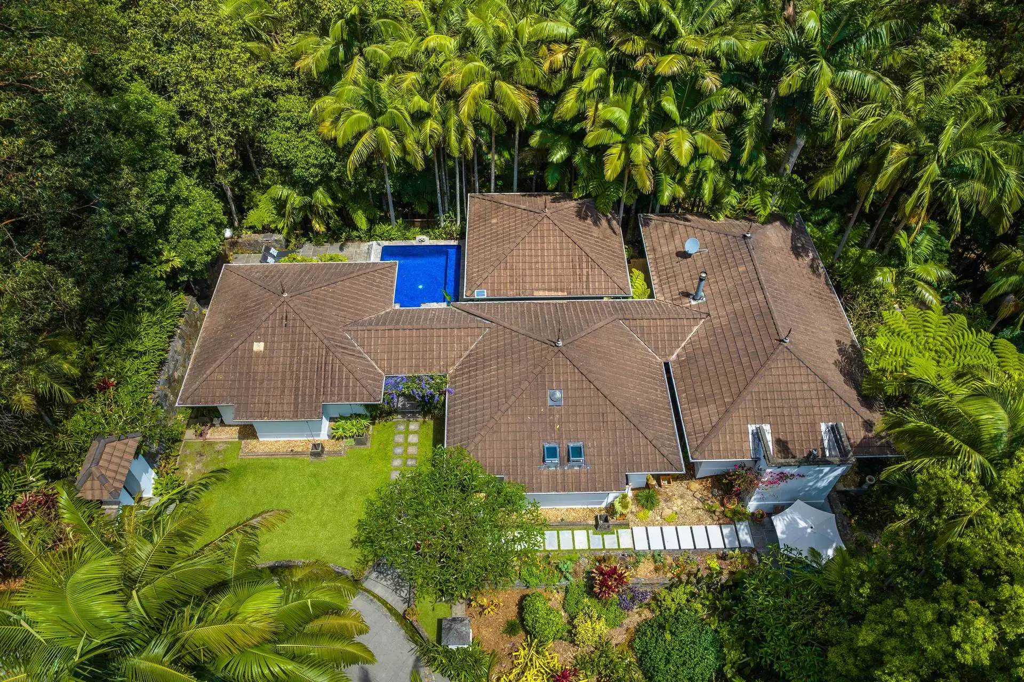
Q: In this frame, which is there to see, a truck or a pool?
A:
pool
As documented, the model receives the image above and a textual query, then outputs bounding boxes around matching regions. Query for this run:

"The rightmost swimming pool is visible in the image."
[370,230,468,306]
